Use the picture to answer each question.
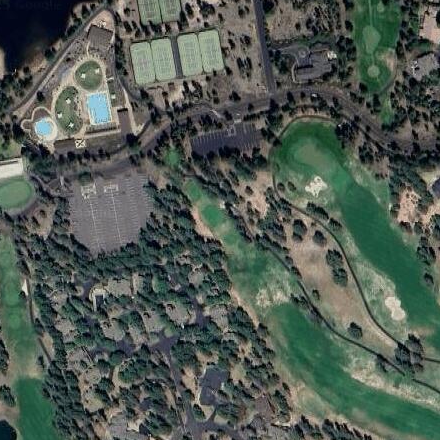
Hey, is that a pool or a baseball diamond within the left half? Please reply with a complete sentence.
It is a pool that can be seen within the left half.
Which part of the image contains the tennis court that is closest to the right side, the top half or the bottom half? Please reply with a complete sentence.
The tennis court that is closest to the right side is in the top half of the image.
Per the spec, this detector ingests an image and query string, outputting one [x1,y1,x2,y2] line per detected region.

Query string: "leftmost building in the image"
[0,158,26,182]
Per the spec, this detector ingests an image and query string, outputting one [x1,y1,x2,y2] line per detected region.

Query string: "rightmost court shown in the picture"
[199,30,223,72]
